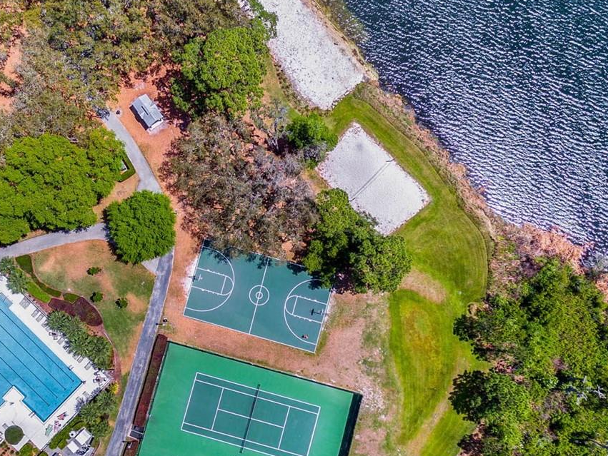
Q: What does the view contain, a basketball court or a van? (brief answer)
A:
basketball court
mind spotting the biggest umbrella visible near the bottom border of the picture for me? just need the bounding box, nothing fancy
[6,425,25,444]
